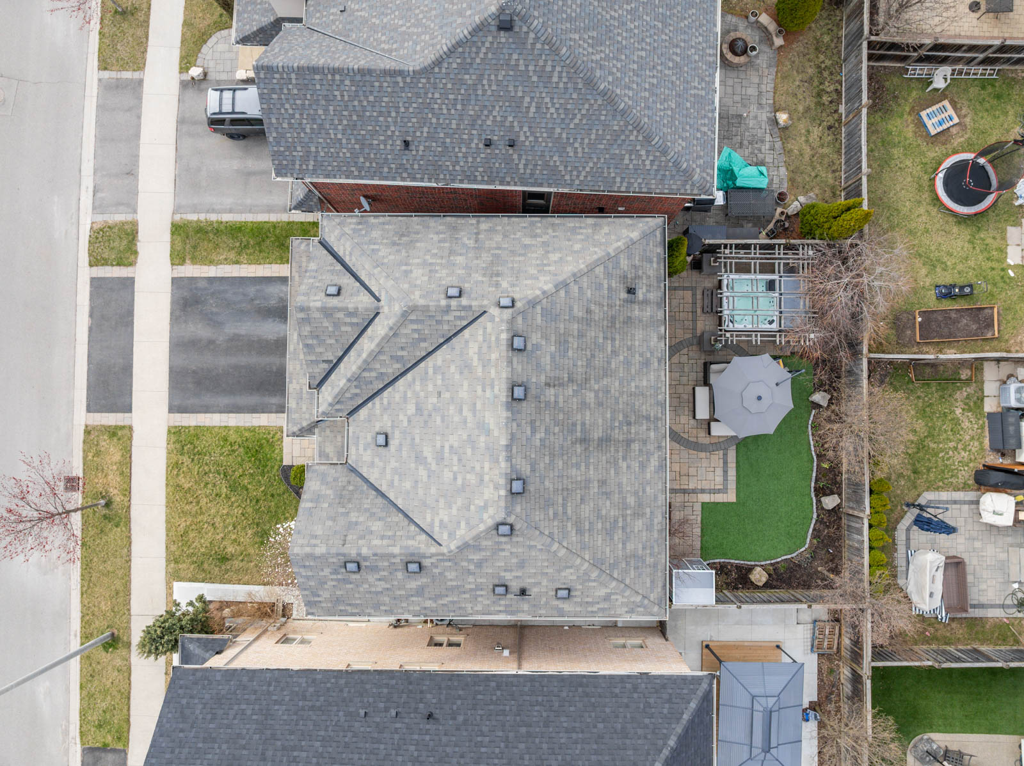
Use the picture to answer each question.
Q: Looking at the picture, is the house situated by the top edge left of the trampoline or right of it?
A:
to its left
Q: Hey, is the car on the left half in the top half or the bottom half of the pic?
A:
top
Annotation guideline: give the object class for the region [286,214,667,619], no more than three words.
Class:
house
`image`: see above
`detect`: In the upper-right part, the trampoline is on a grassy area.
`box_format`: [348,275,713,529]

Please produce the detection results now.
[928,141,1024,217]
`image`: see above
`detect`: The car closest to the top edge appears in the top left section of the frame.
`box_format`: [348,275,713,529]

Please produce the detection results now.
[210,86,269,143]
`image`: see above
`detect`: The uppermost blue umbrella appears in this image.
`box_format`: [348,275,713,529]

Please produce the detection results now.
[901,503,958,535]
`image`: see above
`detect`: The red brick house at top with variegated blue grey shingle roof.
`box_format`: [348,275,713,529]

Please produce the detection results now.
[232,0,720,224]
